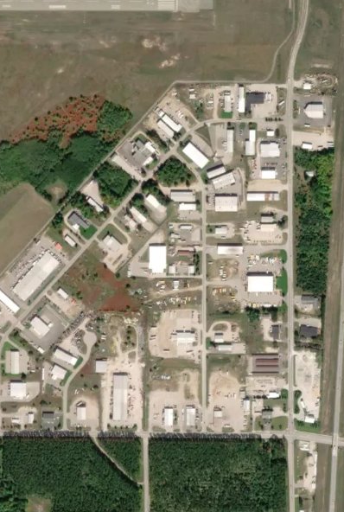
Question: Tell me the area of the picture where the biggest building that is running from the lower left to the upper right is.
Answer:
left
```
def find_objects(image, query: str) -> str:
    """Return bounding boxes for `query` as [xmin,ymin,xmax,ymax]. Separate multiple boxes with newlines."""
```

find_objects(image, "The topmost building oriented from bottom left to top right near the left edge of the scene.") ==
[12,252,59,301]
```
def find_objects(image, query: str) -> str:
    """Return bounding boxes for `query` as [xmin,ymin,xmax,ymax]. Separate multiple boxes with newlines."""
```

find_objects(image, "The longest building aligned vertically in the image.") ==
[114,376,128,421]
